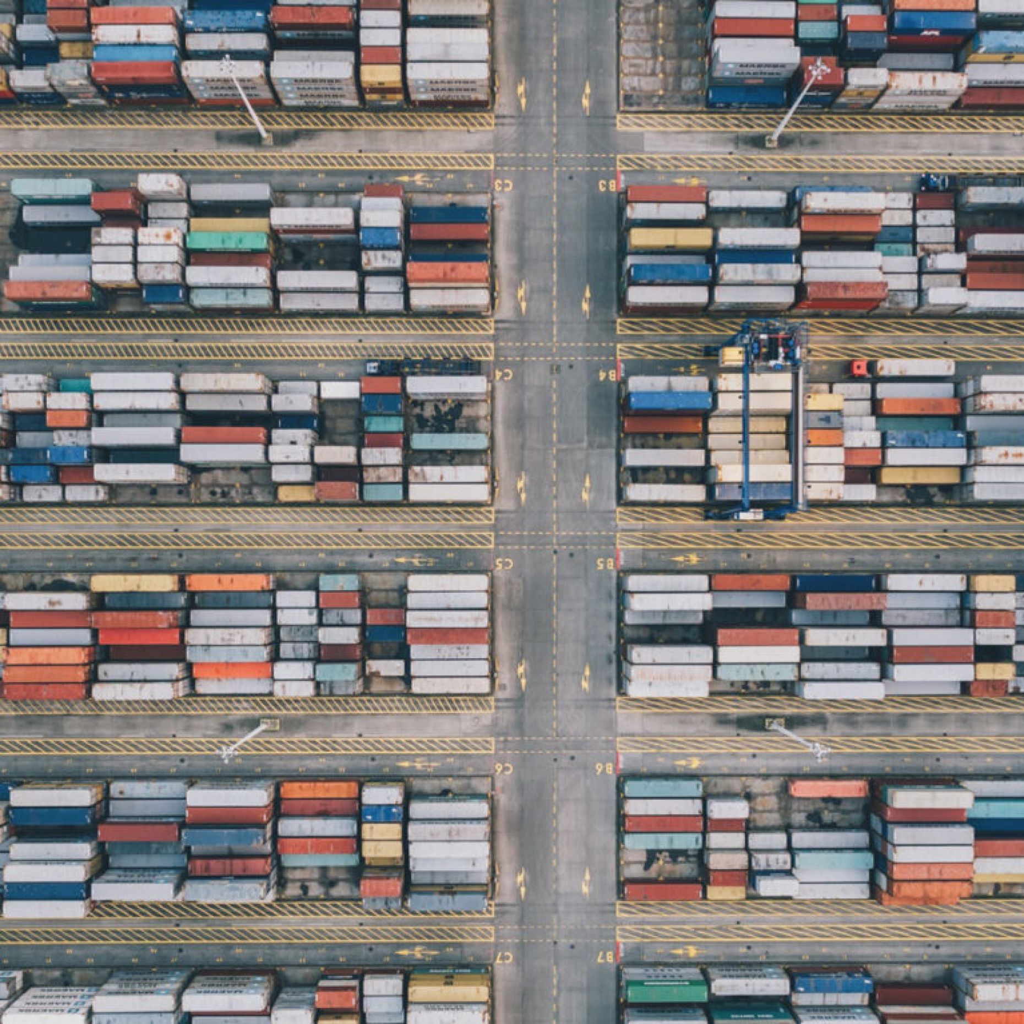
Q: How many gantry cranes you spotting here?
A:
1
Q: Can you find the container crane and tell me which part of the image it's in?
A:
right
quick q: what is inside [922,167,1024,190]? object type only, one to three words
truck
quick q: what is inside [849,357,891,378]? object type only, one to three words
truck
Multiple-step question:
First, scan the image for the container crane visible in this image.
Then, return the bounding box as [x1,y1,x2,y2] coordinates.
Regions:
[703,316,817,519]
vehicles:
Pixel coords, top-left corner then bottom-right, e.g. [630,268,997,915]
[366,355,476,376]
[849,357,891,378]
[922,167,1024,190]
